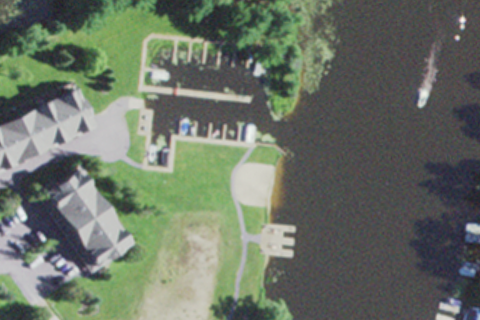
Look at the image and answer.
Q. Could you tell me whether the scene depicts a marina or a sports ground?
marina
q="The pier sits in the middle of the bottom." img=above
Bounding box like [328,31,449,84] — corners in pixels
[260,224,296,258]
